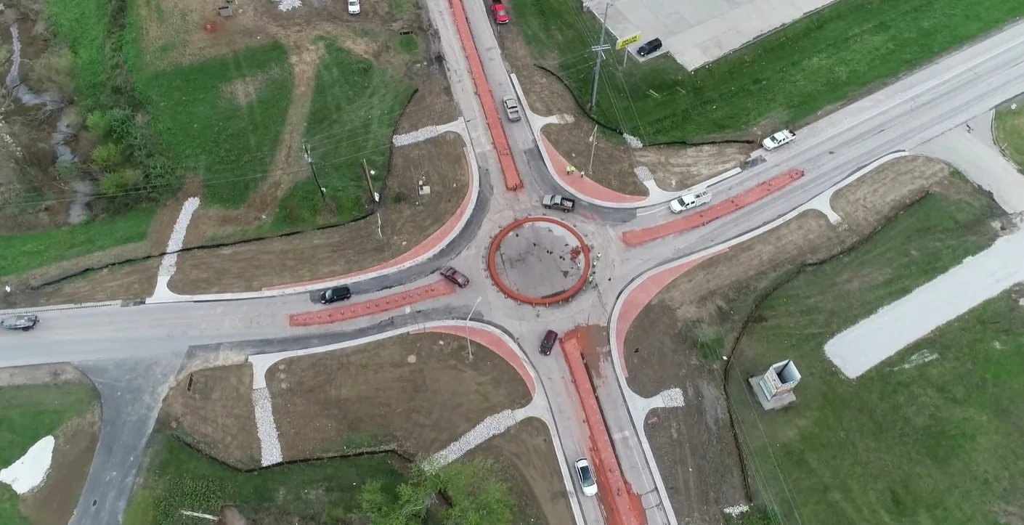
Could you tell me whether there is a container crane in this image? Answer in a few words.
No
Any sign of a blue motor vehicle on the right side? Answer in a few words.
No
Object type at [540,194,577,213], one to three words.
vehicle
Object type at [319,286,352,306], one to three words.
car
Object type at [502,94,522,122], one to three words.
vehicle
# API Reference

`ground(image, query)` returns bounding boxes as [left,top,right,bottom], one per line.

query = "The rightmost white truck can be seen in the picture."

[761,128,798,151]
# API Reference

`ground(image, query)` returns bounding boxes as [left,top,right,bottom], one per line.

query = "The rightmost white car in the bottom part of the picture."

[574,458,598,498]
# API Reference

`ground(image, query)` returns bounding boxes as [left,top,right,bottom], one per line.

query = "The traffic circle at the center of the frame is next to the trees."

[261,0,804,525]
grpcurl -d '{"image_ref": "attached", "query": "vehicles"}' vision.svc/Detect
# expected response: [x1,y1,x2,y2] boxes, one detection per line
[491,0,507,22]
[540,194,577,213]
[439,264,471,290]
[347,0,360,12]
[538,327,560,359]
[670,187,714,211]
[761,128,798,151]
[635,35,664,57]
[574,458,598,498]
[319,286,352,306]
[502,94,522,122]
